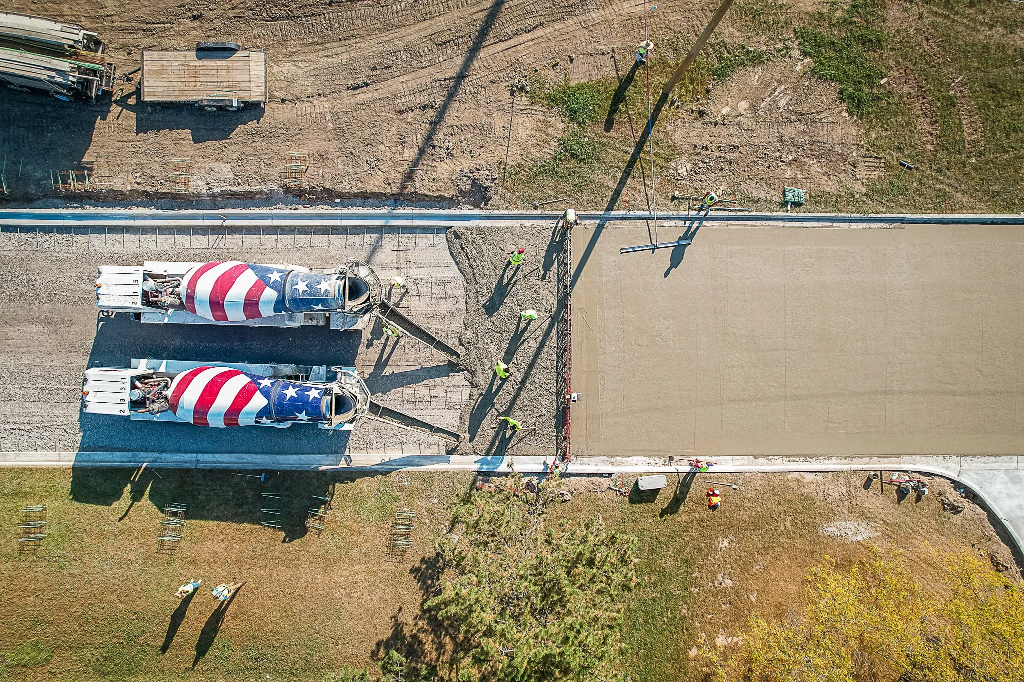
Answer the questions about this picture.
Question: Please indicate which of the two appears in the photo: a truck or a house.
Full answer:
Of the two, only a truck appears.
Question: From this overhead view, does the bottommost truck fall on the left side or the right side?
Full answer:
You can find the bottommost truck on the left side of the picture.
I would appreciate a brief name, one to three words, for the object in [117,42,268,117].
trailer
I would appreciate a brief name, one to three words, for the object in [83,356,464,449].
truck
